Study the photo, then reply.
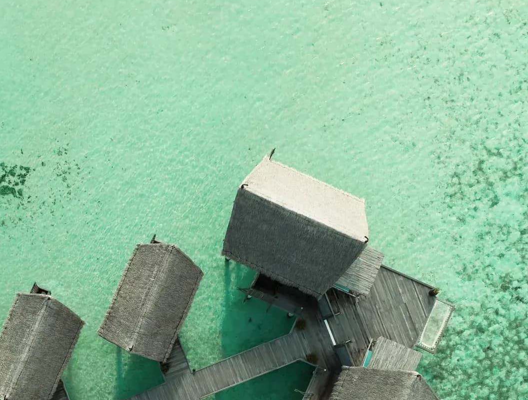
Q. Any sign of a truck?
No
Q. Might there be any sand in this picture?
Yes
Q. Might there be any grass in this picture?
No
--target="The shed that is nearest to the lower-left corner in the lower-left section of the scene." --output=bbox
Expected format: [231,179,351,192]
[0,282,86,400]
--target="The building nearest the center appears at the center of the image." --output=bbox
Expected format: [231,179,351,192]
[221,148,370,320]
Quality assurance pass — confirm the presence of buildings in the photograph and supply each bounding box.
[0,282,86,400]
[97,235,205,361]
[303,366,438,400]
[221,148,370,320]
